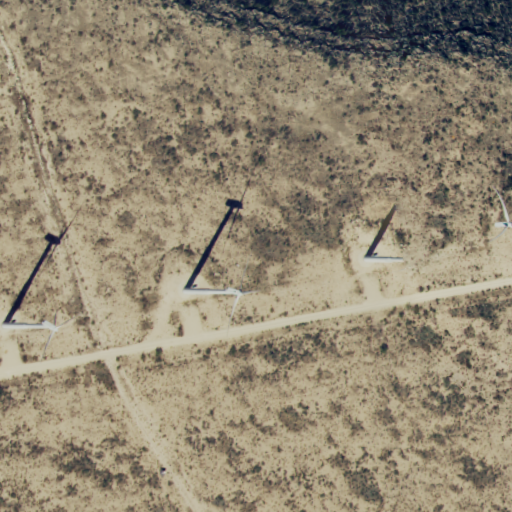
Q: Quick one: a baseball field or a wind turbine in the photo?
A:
wind turbine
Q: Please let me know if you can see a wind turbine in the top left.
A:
No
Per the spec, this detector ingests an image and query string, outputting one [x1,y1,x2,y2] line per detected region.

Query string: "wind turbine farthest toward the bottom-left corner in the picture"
[0,309,74,366]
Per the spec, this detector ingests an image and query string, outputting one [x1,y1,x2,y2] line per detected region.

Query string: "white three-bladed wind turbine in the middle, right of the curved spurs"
[180,277,256,328]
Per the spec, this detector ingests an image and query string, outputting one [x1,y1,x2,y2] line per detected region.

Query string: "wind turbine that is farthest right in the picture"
[486,190,512,246]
